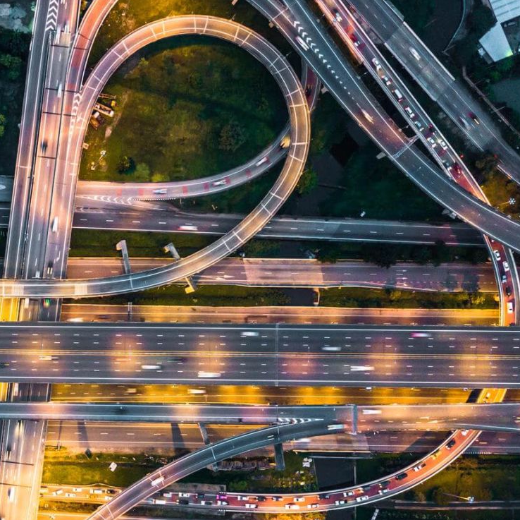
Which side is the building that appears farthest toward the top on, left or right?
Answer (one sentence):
The building that appears farthest toward the top sits on the right side.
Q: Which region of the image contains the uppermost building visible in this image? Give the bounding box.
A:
[482,0,520,27]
